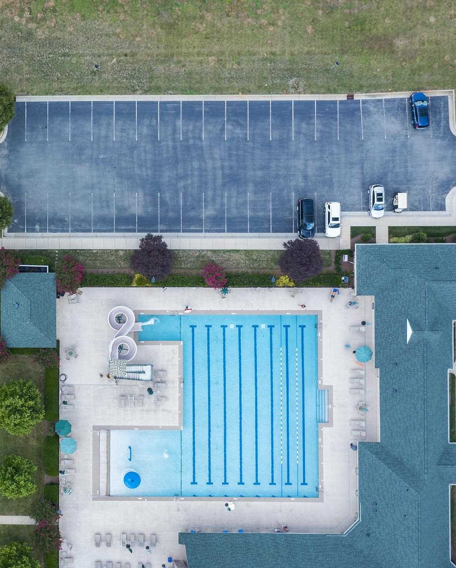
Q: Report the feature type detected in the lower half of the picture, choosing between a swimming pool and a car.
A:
swimming pool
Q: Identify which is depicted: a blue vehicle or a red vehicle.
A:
blue vehicle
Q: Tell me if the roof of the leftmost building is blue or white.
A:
blue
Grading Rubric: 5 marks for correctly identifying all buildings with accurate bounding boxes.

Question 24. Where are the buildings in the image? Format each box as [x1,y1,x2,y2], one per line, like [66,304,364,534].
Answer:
[171,243,456,568]
[0,272,57,349]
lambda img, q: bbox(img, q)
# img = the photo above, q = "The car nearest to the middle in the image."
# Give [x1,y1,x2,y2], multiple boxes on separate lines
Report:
[297,199,318,237]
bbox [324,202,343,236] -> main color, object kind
white car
